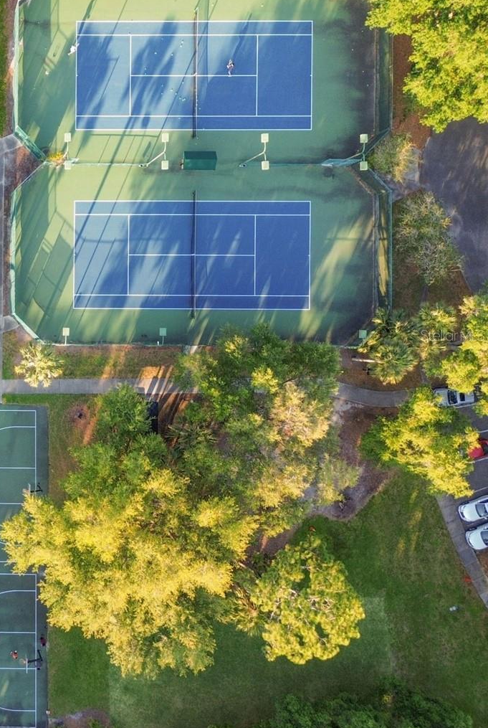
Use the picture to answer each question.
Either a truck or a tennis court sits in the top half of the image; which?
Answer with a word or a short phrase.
tennis court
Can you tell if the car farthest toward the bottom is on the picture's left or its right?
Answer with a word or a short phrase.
right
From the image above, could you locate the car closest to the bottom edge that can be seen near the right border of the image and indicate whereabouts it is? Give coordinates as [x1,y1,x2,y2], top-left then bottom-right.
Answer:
[468,529,488,551]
